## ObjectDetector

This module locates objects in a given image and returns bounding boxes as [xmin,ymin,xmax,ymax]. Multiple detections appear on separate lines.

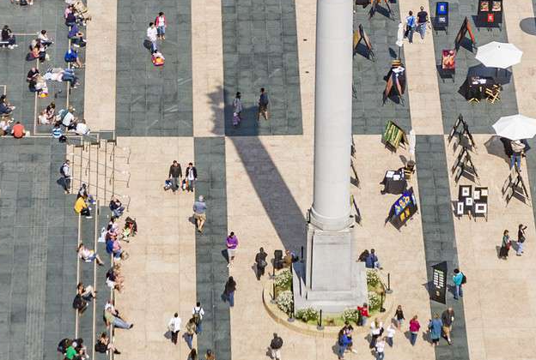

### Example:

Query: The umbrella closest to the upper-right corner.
[476,43,521,81]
